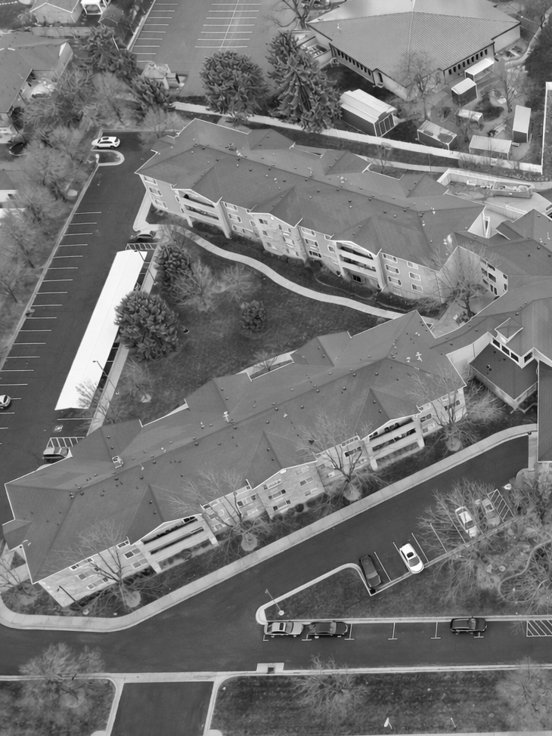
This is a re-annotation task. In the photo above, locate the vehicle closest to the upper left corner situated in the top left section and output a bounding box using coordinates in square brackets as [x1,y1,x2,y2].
[92,136,119,149]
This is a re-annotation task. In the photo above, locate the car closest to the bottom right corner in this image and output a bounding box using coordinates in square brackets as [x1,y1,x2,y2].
[450,616,489,635]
